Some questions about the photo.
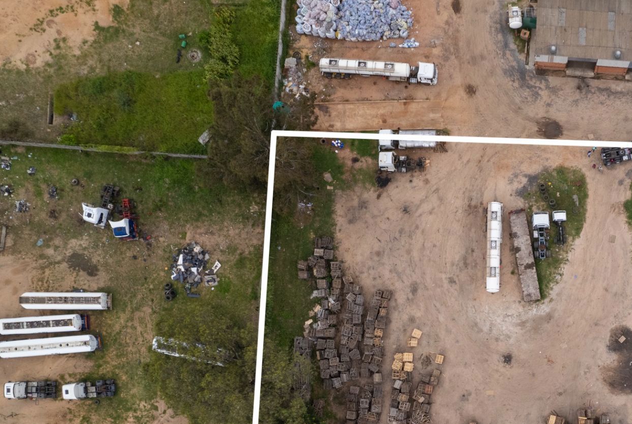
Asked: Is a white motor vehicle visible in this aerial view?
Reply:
Yes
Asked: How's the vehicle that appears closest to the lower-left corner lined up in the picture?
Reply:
from left to right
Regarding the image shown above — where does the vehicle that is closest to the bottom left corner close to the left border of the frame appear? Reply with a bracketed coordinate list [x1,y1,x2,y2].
[1,380,58,401]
